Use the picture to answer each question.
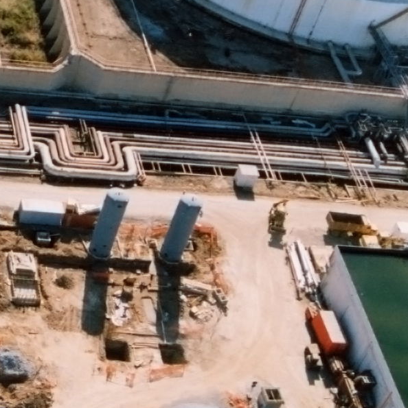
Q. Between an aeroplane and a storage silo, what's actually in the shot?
storage silo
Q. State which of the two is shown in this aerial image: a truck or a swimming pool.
truck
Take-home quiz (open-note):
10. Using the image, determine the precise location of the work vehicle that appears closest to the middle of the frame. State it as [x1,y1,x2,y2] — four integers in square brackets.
[270,205,289,233]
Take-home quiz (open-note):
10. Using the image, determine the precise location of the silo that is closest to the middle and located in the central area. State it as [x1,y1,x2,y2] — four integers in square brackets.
[160,191,209,268]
